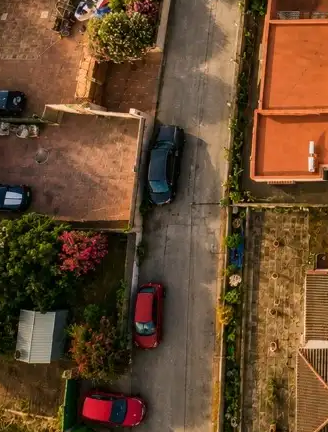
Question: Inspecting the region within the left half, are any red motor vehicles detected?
Yes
